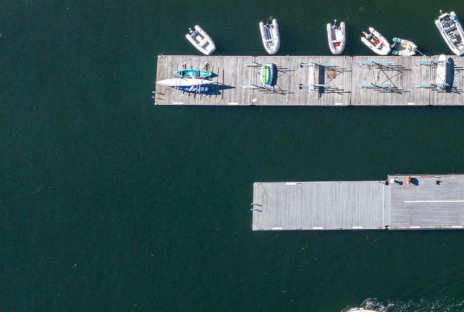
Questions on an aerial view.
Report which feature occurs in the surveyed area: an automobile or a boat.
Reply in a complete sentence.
Visible in the photo is a boat.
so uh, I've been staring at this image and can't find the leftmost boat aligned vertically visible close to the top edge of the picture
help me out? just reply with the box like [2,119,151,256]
[259,14,279,54]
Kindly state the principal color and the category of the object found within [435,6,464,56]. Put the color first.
white boat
